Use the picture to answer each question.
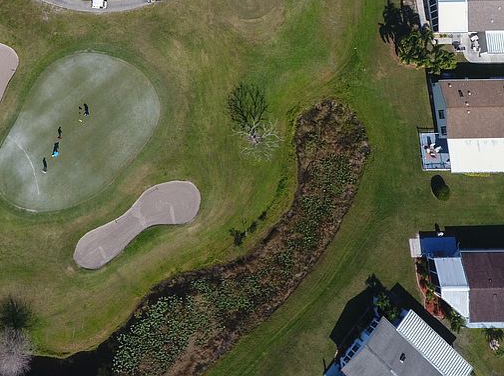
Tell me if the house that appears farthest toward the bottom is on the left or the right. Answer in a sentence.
The house that appears farthest toward the bottom sits on the right side.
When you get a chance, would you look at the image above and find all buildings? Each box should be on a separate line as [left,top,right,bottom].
[421,79,504,173]
[318,305,474,376]
[422,0,504,55]
[422,247,504,344]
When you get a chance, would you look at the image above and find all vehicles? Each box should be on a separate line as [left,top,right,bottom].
[143,0,161,6]
[90,0,109,10]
